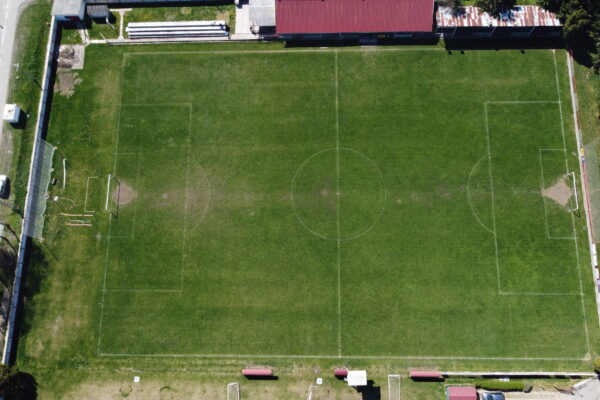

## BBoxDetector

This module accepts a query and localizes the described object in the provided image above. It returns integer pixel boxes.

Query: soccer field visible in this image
[90,44,599,364]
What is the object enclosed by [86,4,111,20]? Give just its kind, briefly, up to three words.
shed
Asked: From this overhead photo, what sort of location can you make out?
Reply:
sports ground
